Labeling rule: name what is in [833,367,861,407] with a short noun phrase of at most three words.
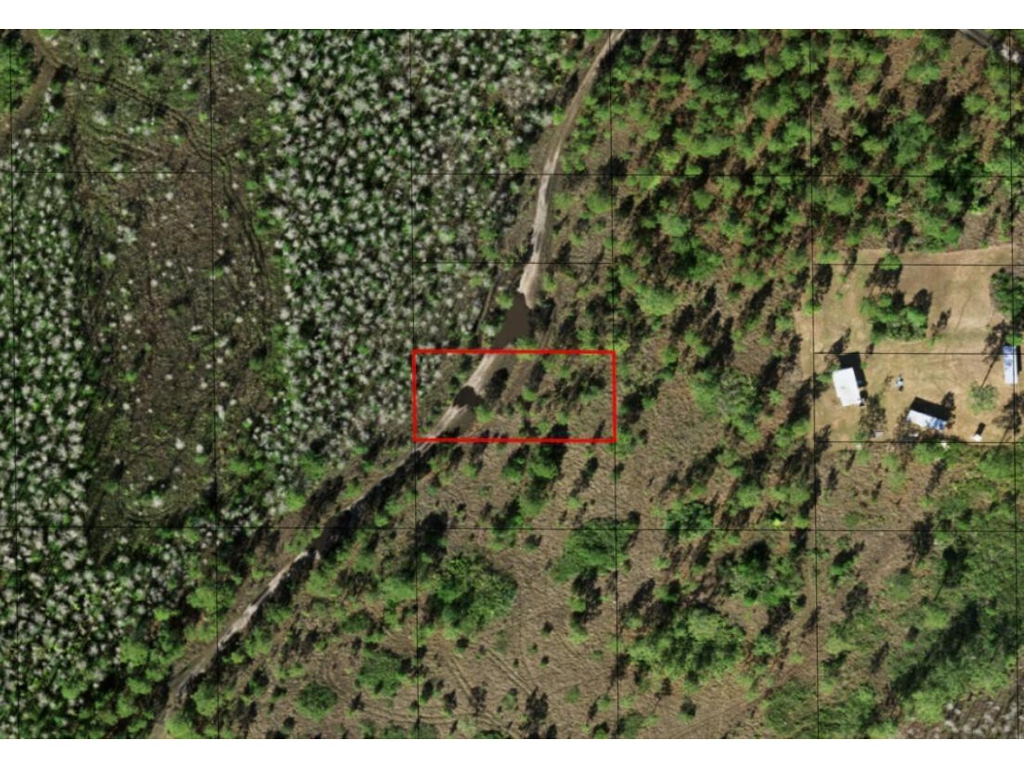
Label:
house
